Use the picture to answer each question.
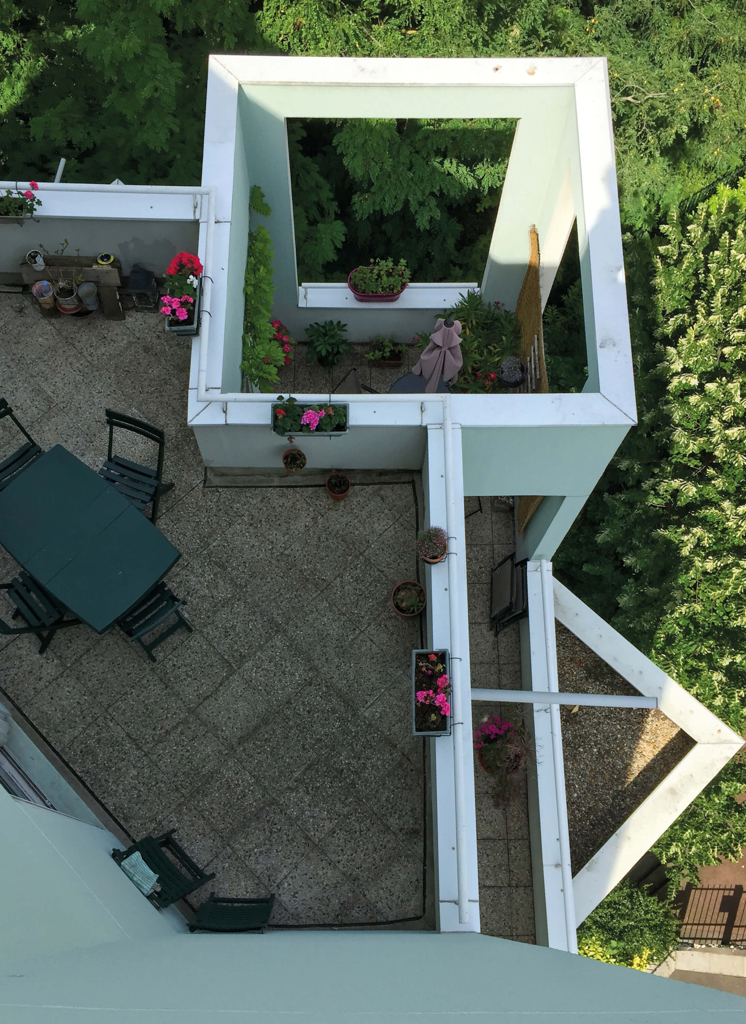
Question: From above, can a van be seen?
No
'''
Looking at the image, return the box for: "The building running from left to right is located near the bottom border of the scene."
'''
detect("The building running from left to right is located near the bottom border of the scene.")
[0,682,746,1024]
